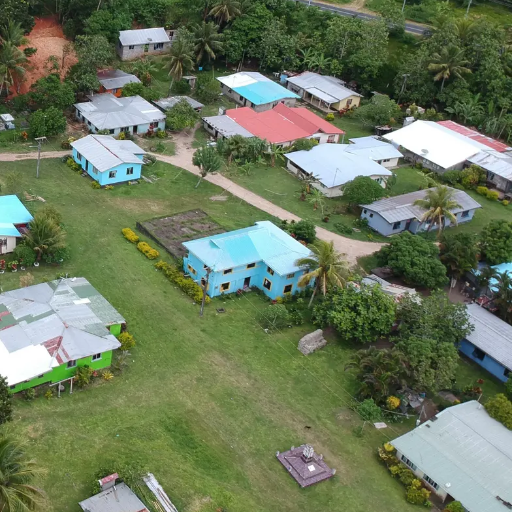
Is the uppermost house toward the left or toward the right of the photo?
left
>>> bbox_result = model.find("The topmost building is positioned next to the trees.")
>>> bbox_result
[120,31,180,61]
